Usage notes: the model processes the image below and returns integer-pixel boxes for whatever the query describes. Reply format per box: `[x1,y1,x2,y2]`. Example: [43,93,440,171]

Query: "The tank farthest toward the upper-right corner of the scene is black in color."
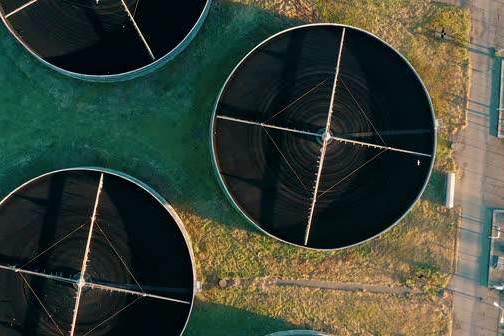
[210,24,437,250]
